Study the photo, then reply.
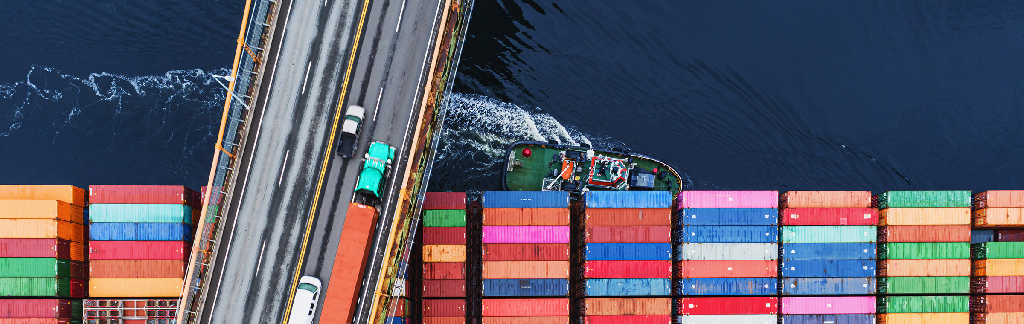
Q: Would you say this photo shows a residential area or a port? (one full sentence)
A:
This looks like a port.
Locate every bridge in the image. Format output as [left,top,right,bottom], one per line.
[174,0,476,324]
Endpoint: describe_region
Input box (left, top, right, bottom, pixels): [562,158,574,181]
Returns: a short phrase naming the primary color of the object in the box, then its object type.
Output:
orange boat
